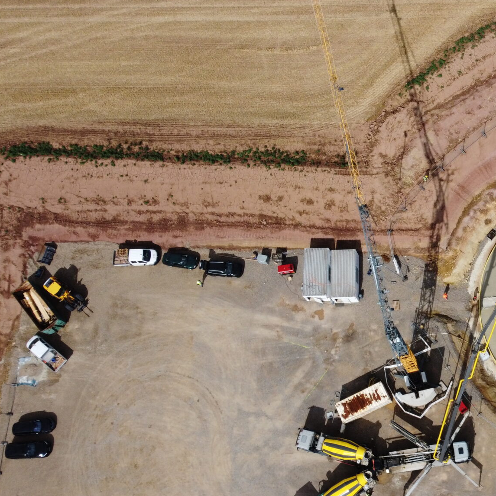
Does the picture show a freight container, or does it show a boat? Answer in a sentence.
Looking from above, you can make out a freight container.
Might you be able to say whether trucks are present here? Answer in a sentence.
Yes, you can see a truck in this photo.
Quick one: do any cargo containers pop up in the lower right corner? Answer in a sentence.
Yes, a cargo container appears in the lower right corner.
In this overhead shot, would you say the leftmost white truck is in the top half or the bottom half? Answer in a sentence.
You can find the leftmost white truck in the bottom half.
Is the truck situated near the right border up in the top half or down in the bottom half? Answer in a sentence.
It is in the bottom half that the truck situated near the right border appears.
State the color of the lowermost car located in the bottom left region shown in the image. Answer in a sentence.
From above, the lowermost car located in the bottom left region appears black.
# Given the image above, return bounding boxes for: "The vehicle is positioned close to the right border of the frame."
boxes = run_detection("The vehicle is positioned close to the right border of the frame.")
[371,303,496,496]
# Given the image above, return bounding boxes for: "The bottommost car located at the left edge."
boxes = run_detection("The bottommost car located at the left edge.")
[5,439,56,459]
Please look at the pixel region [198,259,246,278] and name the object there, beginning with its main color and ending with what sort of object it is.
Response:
black car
